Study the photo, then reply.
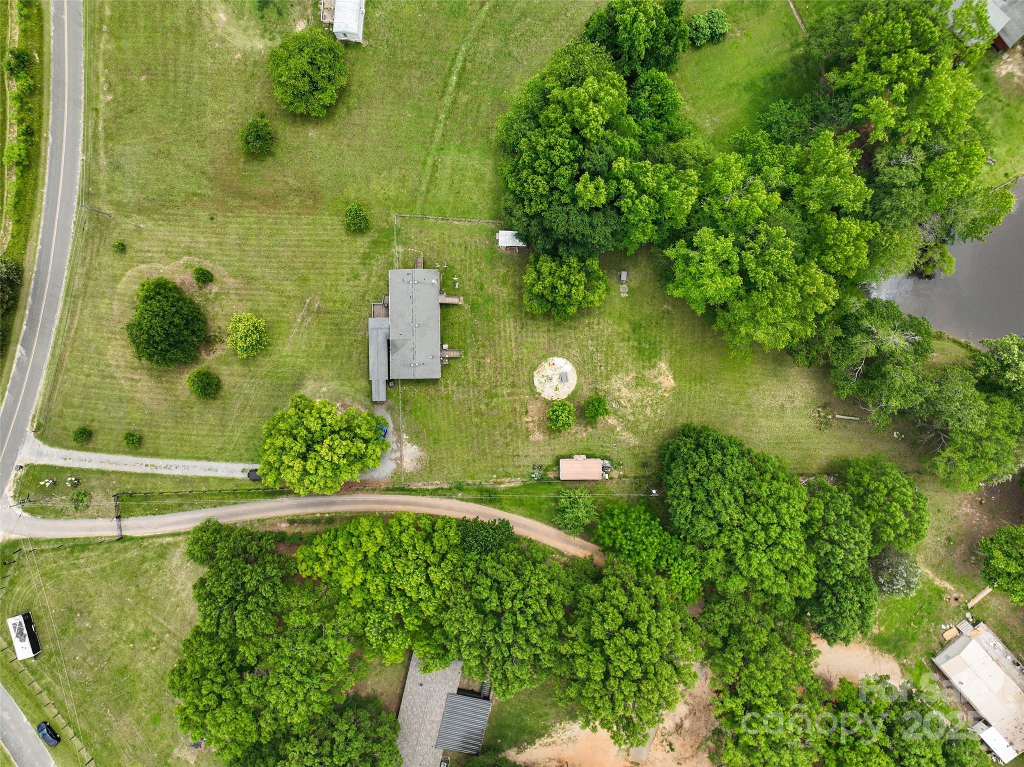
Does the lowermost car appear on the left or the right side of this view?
left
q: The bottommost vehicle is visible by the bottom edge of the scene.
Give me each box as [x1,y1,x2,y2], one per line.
[40,720,60,746]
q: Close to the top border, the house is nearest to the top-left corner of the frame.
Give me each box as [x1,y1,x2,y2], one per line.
[320,0,365,42]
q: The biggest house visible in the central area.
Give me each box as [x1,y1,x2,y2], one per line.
[369,257,461,379]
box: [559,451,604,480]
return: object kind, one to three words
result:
shed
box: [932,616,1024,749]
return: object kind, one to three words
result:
house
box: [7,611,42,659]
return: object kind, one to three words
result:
trailer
